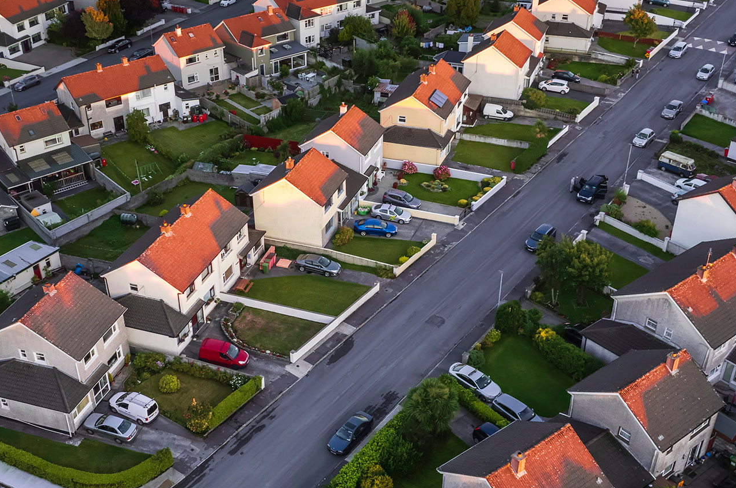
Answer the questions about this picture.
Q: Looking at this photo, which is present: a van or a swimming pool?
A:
van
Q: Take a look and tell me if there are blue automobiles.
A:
Yes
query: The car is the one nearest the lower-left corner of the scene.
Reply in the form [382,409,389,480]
[83,412,141,444]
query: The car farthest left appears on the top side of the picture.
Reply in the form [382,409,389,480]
[14,74,42,91]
